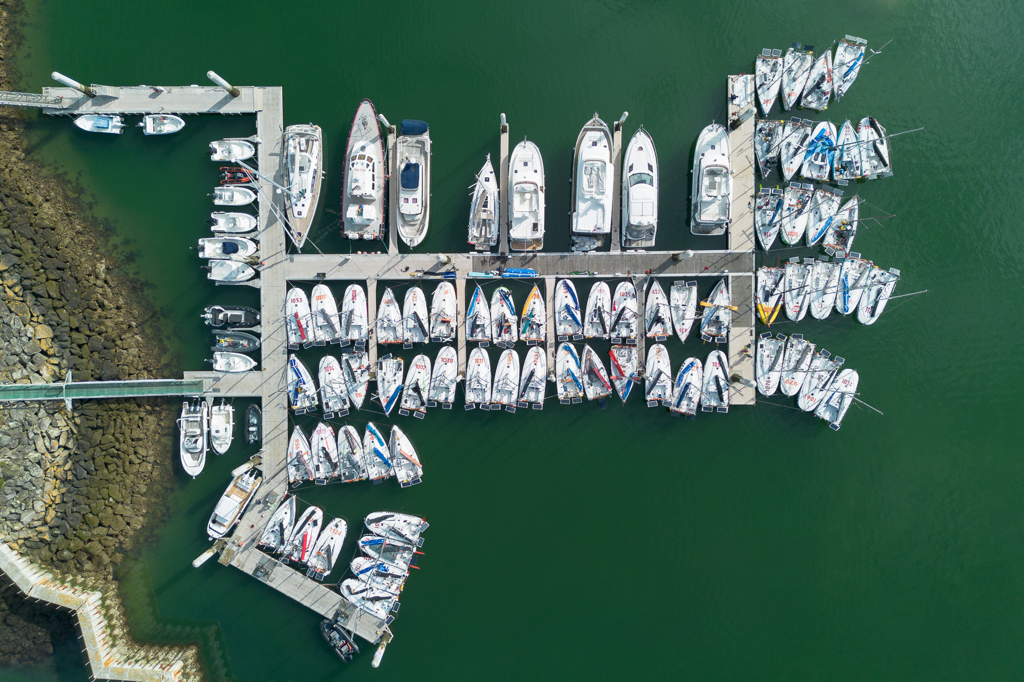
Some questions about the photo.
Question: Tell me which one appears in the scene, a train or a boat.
boat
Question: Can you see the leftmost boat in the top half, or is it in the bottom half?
top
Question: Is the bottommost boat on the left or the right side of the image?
left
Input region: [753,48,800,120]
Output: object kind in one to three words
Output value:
boat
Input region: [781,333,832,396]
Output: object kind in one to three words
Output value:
boat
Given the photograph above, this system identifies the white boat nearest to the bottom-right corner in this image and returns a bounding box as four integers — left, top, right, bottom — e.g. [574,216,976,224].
[816,368,881,432]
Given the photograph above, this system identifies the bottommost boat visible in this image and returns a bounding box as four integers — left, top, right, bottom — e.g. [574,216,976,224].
[320,620,360,666]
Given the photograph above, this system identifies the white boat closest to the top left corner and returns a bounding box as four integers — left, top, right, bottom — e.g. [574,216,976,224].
[74,113,130,133]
